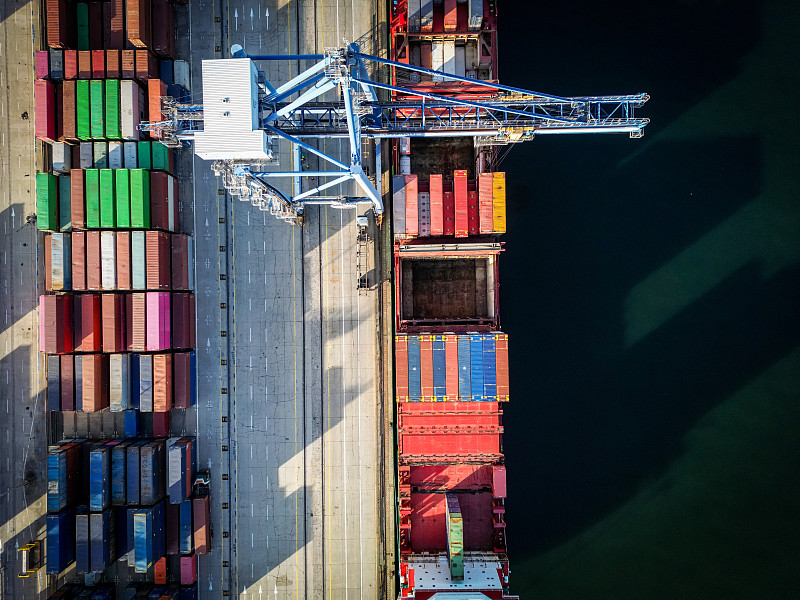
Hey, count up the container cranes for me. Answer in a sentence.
Just 1 container crane appears in this view.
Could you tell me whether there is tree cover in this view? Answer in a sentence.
No, there's no tree cover in this view.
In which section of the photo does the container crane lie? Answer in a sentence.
The container crane is in the top part of the image.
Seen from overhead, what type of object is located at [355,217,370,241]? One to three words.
vehicle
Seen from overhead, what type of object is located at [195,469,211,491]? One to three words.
vehicle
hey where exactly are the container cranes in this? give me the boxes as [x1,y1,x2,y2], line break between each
[132,31,661,233]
